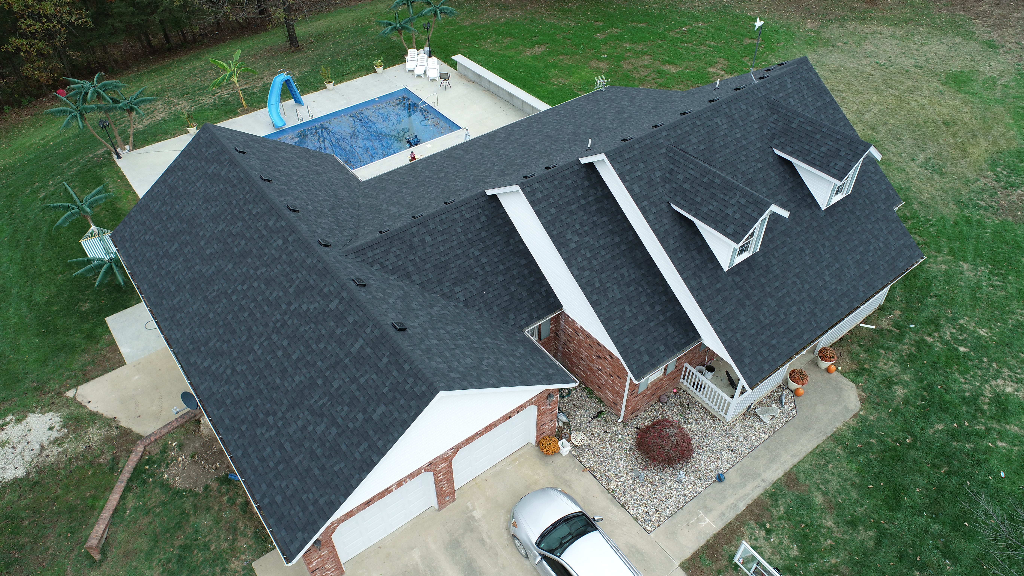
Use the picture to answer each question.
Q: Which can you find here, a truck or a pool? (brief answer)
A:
pool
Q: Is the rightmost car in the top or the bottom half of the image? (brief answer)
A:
bottom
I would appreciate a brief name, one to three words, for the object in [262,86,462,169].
swimming pool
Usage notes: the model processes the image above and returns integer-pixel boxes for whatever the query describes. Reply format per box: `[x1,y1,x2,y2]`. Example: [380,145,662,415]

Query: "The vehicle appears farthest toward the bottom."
[504,486,632,576]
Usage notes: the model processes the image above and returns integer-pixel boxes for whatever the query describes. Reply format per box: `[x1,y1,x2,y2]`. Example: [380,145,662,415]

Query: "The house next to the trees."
[109,56,927,576]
